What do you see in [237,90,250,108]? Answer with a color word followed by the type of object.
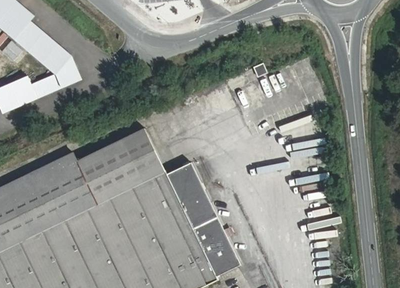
white vehicle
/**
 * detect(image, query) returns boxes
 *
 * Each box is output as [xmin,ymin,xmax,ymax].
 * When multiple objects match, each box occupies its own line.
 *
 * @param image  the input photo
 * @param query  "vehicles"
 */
[312,250,330,258]
[310,202,322,208]
[303,192,327,202]
[218,210,230,216]
[258,121,270,129]
[307,207,333,218]
[310,241,330,249]
[278,135,294,145]
[300,216,343,233]
[314,268,332,276]
[309,230,339,240]
[267,128,278,136]
[315,278,334,286]
[285,138,328,152]
[270,74,282,92]
[250,162,290,176]
[292,170,302,176]
[235,244,247,249]
[350,124,356,137]
[294,183,320,194]
[277,72,286,88]
[289,172,330,186]
[260,78,273,98]
[313,260,332,267]
[214,201,228,208]
[237,90,250,108]
[308,166,319,172]
[226,278,238,286]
